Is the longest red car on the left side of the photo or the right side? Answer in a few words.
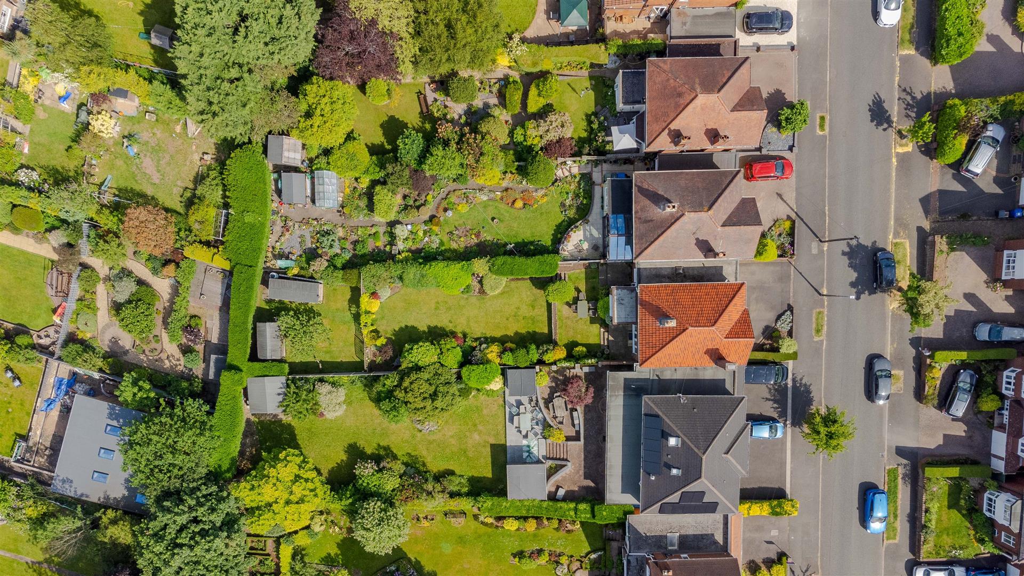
right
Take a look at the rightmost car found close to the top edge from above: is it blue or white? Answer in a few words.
white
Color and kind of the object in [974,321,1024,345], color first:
blue car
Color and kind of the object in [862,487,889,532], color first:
blue car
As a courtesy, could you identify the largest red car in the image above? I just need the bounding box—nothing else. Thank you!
[743,158,790,182]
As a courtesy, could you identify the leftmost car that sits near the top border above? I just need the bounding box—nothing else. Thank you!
[743,9,792,36]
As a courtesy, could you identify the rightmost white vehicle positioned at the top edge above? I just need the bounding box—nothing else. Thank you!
[874,0,902,29]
